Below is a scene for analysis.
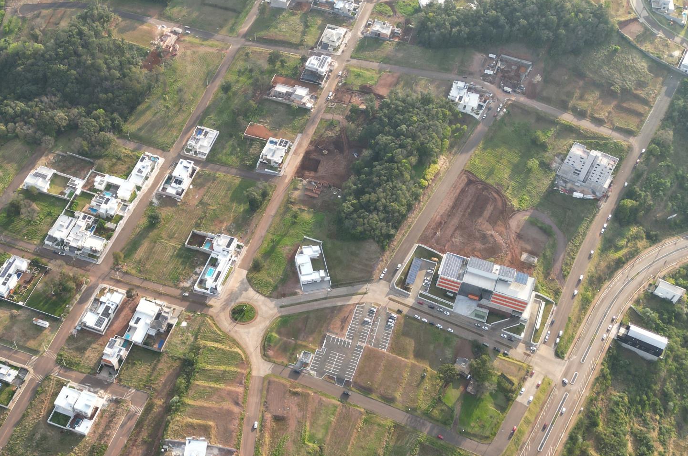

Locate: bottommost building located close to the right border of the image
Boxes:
[609,324,666,365]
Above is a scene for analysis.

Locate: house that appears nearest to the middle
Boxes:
[296,245,325,290]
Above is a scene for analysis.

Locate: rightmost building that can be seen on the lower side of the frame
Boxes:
[650,279,683,308]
